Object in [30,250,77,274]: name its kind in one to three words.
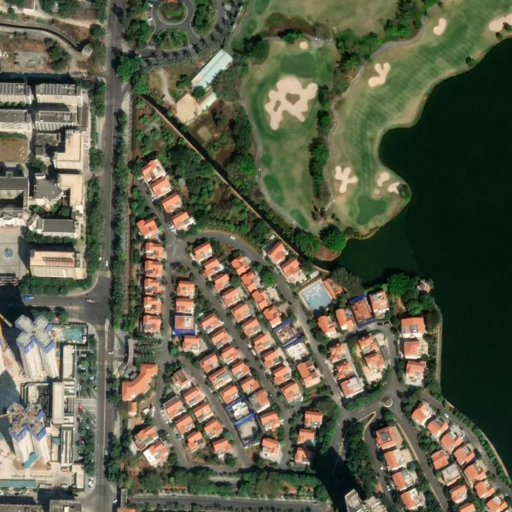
building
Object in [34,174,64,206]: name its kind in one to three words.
building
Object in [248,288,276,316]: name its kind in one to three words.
house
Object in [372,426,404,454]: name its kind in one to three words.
house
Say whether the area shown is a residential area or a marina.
residential area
